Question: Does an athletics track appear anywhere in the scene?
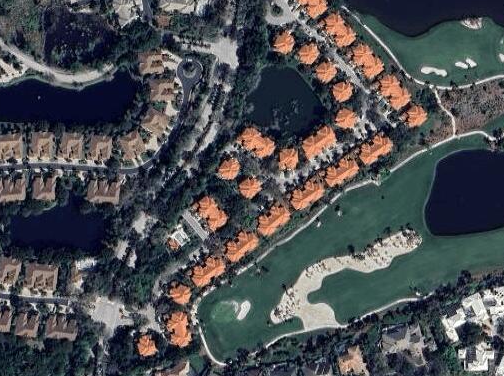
No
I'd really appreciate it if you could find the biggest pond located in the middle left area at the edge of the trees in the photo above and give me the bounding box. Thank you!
[9,191,121,253]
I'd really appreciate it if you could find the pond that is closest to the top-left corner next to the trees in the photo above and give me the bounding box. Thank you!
[44,4,118,65]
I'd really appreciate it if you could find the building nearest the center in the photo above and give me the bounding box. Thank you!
[236,176,263,200]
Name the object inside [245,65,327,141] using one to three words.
pond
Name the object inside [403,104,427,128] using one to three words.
building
